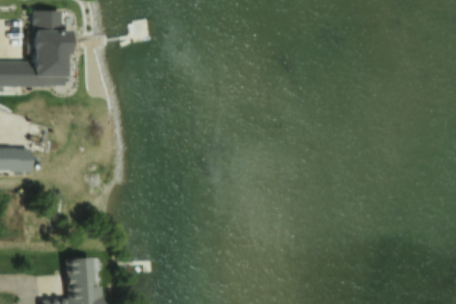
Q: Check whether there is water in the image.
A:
Yes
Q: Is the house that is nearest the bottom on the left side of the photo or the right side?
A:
left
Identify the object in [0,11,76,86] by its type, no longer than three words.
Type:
house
